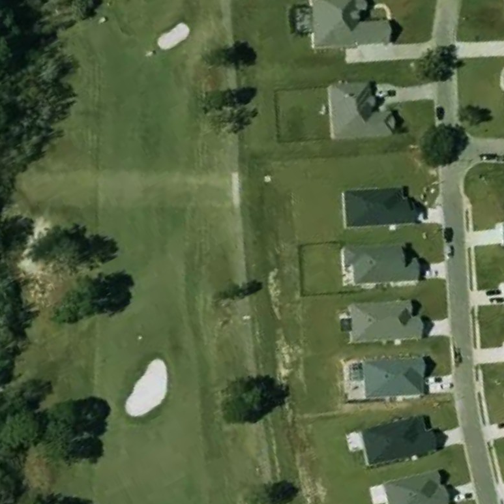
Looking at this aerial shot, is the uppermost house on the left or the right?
right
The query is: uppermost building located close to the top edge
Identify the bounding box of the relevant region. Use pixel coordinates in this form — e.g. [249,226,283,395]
[312,0,394,50]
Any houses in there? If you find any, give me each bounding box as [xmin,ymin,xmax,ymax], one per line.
[312,0,394,50]
[343,189,424,234]
[341,246,423,290]
[344,416,443,466]
[338,301,427,347]
[343,360,428,404]
[328,81,396,143]
[369,470,457,504]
